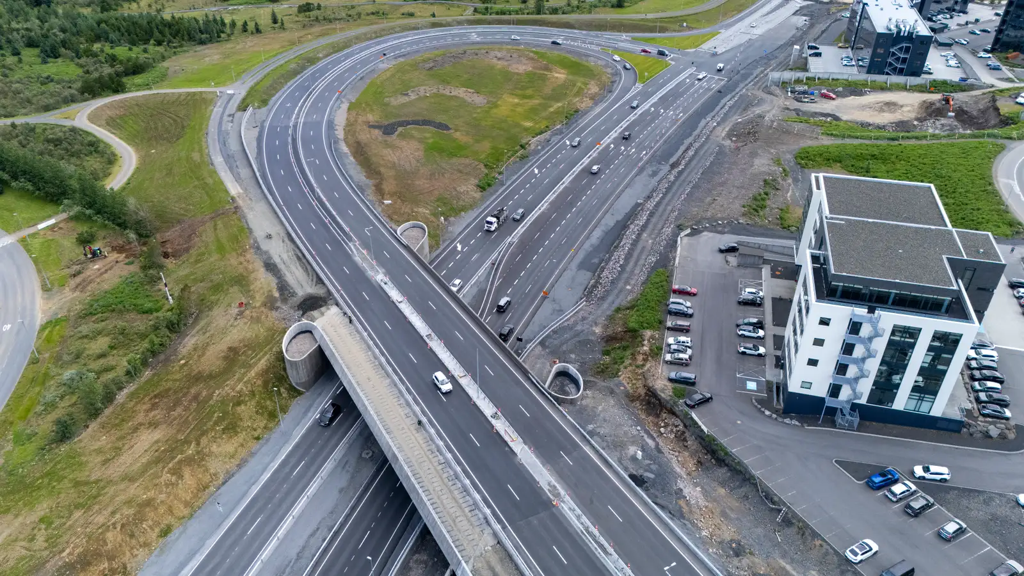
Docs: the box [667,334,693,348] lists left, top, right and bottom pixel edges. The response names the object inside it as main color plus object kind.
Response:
white car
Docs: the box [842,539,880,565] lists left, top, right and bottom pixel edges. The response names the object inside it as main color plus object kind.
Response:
white car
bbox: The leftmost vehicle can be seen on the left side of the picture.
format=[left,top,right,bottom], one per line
[79,244,103,259]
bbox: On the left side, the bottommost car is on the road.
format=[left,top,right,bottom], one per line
[318,403,340,426]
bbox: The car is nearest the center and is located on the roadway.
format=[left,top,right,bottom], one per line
[496,297,512,313]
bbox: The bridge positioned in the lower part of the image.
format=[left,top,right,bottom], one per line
[317,217,552,576]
